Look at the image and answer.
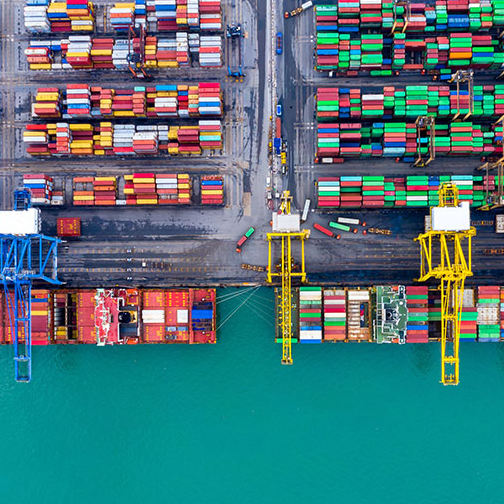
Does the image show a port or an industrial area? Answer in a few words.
port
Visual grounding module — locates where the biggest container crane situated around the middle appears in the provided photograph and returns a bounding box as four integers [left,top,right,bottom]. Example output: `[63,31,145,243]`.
[263,185,309,365]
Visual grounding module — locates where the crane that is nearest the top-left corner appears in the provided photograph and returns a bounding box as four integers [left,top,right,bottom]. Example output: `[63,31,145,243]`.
[128,23,153,80]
